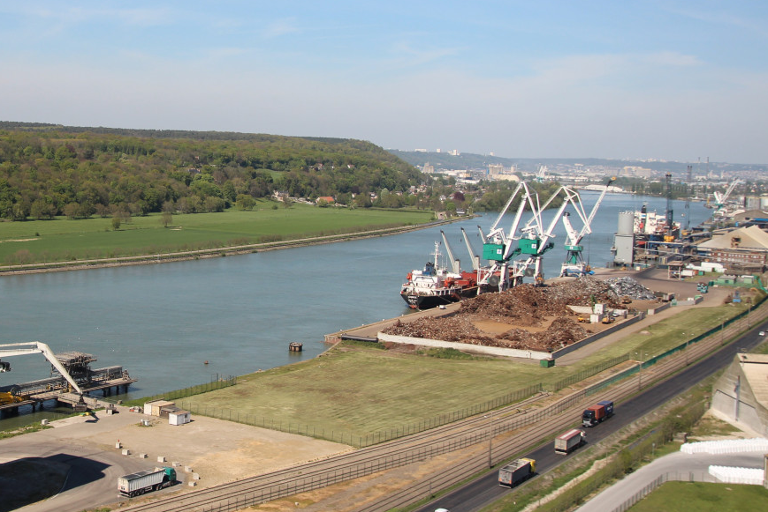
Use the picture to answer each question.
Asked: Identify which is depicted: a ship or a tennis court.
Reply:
ship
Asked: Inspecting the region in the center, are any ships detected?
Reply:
Yes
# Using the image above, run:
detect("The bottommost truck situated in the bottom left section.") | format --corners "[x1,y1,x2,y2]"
[123,465,182,495]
